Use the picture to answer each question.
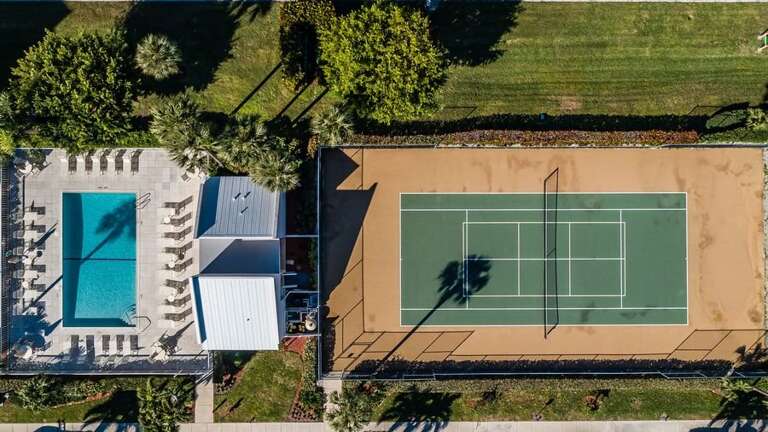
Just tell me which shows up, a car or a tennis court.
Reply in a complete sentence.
Looking from above, you can make out a tennis court.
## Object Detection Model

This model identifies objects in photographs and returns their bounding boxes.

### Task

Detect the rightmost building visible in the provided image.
[188,172,290,351]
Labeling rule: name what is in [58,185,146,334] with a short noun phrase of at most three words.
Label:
swimming pool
